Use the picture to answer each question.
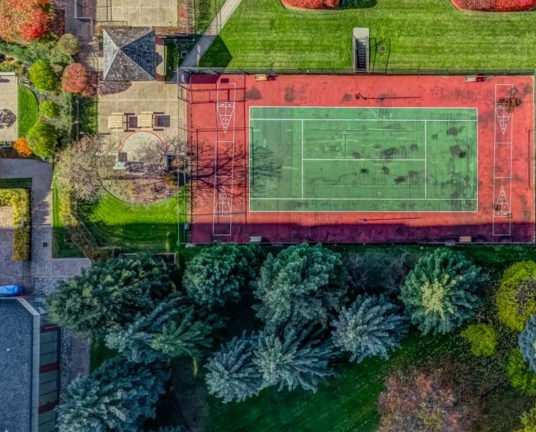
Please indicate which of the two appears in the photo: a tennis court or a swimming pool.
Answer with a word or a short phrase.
tennis court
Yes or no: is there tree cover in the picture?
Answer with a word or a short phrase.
Yes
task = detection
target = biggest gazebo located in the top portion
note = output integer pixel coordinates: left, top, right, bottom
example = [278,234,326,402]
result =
[103,27,165,83]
